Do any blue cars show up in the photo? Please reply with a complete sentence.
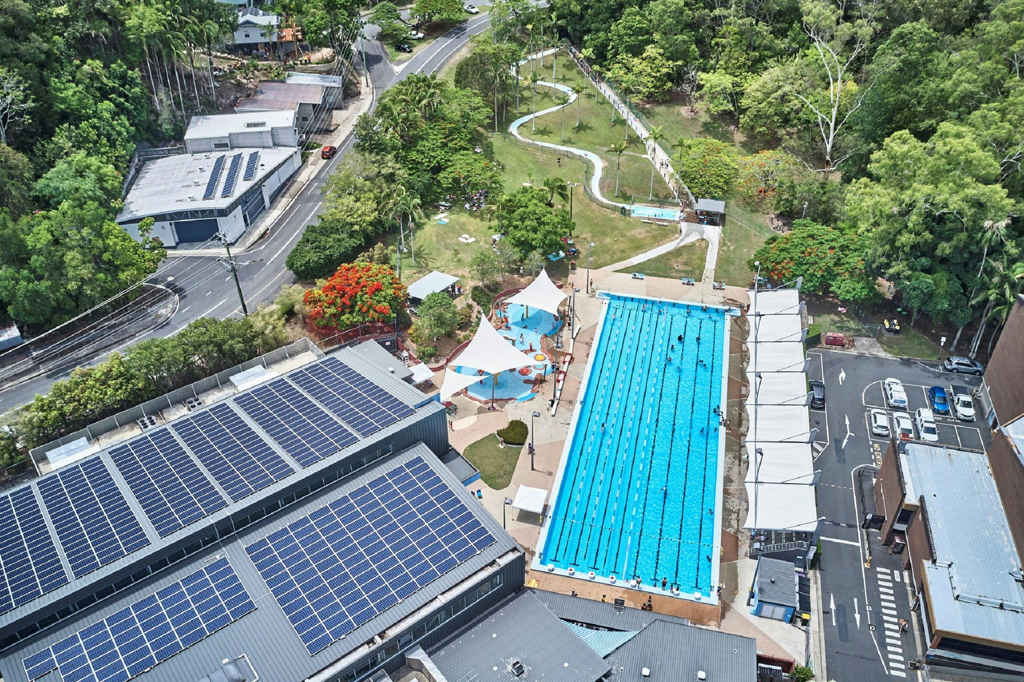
Yes, a blue car is visible in the scene.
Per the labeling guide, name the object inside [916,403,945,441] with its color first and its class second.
white vehicle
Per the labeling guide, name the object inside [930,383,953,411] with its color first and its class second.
blue car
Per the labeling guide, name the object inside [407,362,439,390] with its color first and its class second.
white tent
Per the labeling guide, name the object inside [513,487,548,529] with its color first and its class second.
white tent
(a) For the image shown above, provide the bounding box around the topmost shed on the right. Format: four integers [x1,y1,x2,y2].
[695,198,726,226]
